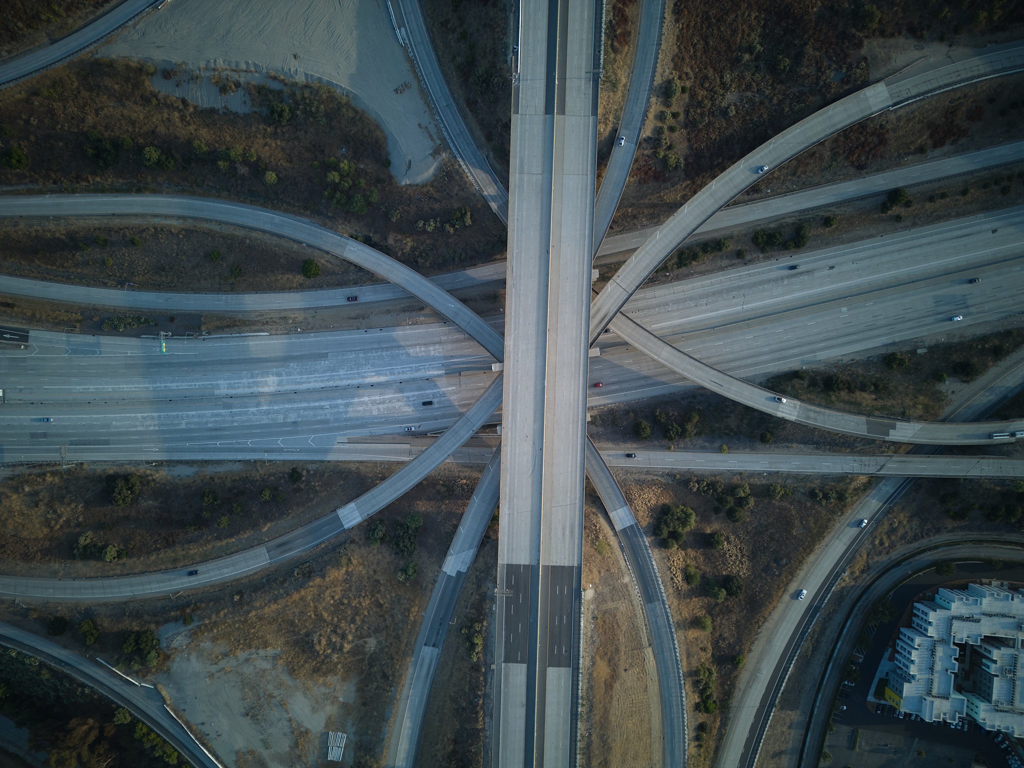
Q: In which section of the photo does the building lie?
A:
bottom right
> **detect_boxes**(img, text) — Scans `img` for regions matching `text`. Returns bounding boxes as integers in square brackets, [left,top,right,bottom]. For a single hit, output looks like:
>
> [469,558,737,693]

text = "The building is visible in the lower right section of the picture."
[883,583,1024,737]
